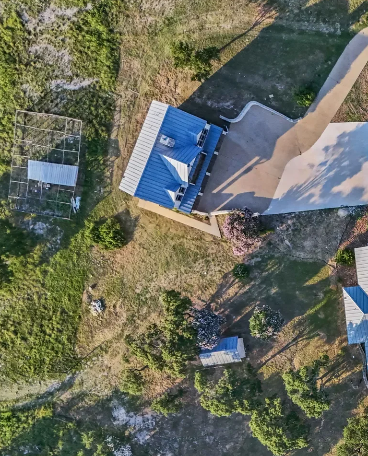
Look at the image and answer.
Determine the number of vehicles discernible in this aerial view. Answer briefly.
none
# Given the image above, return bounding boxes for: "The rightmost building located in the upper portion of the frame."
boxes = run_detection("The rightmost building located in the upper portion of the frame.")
[119,100,228,214]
